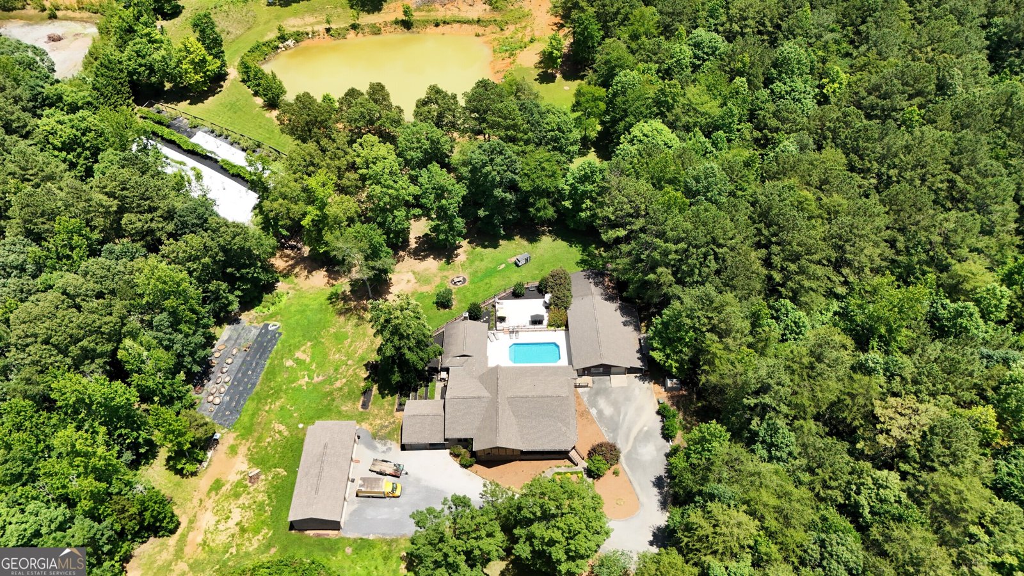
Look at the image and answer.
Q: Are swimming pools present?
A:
Yes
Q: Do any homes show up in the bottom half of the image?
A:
Yes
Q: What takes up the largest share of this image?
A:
trees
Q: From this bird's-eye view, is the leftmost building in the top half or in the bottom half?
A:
bottom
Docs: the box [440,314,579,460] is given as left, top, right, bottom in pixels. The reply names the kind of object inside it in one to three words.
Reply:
house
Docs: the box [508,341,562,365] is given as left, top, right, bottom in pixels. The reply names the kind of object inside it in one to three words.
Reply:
swimming pool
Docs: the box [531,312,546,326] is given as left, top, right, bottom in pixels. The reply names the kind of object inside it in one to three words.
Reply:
gazebo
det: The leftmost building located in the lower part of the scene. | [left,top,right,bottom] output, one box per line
[287,416,358,527]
